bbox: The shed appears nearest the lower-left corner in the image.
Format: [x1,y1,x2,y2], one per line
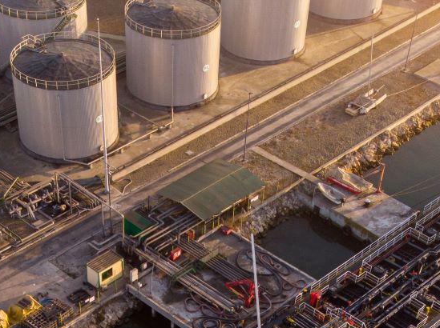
[86,250,124,288]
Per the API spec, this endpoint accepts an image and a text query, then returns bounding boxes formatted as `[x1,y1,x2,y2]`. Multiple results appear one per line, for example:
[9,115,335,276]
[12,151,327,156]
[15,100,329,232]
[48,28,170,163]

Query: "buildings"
[157,159,265,238]
[86,250,124,288]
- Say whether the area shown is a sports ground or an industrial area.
industrial area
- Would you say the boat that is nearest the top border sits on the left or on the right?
right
